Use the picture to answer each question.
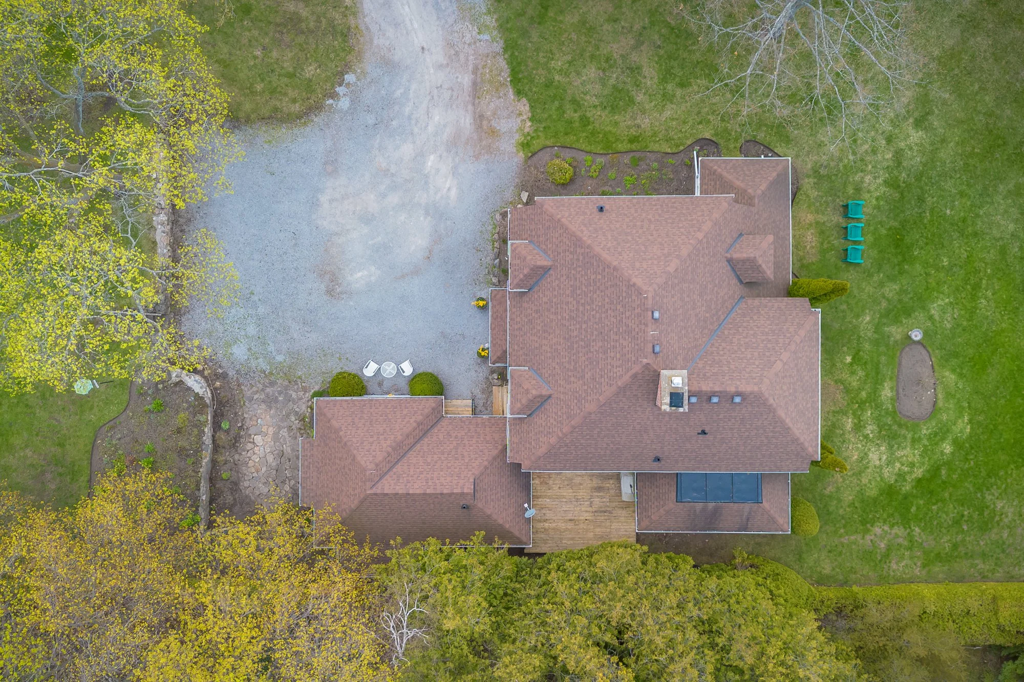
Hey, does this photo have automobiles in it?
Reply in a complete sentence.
No, I can't see a single automobile in this photo.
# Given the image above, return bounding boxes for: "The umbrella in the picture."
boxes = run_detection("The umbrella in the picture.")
[78,378,97,395]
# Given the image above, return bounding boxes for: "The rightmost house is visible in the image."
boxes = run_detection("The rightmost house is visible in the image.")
[489,151,823,533]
